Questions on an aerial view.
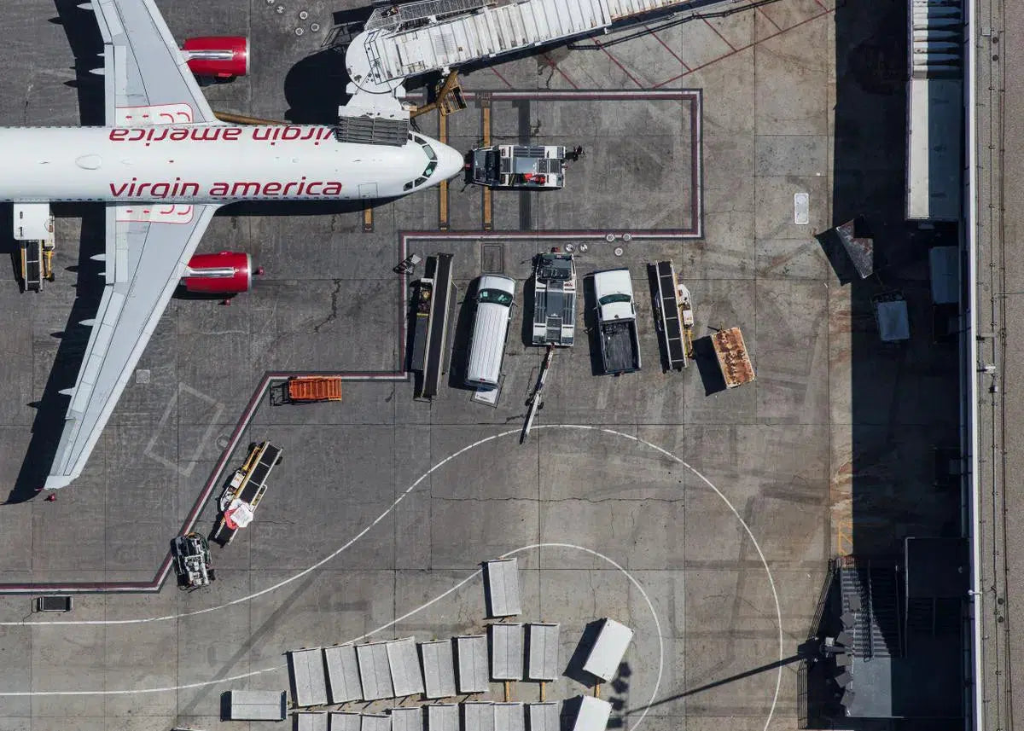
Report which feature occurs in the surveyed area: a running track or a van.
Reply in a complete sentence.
The image shows a van.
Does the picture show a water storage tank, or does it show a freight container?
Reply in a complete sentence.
It is a freight container that can be seen here.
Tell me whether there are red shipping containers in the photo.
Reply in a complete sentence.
No, no red shipping container can be seen from above.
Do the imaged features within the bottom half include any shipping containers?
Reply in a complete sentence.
No, no shipping container is visible within the bottom half.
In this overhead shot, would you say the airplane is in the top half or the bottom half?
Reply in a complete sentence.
It is in the top half that the airplane appears.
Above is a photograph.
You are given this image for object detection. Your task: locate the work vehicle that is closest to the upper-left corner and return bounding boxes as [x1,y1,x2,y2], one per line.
[20,211,60,297]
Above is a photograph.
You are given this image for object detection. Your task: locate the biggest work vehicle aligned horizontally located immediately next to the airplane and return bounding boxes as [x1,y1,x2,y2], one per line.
[470,142,569,191]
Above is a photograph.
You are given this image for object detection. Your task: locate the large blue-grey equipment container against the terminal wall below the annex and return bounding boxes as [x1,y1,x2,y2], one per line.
[926,247,955,304]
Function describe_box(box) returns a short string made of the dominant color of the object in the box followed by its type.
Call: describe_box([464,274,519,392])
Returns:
white van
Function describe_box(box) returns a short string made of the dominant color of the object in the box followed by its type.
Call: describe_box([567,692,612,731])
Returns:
white trailer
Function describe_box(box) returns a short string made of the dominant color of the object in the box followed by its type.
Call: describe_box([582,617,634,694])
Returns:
white trailer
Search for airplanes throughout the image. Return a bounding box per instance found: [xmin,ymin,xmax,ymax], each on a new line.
[0,0,464,490]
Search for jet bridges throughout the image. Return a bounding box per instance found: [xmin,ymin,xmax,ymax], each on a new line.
[339,0,741,148]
